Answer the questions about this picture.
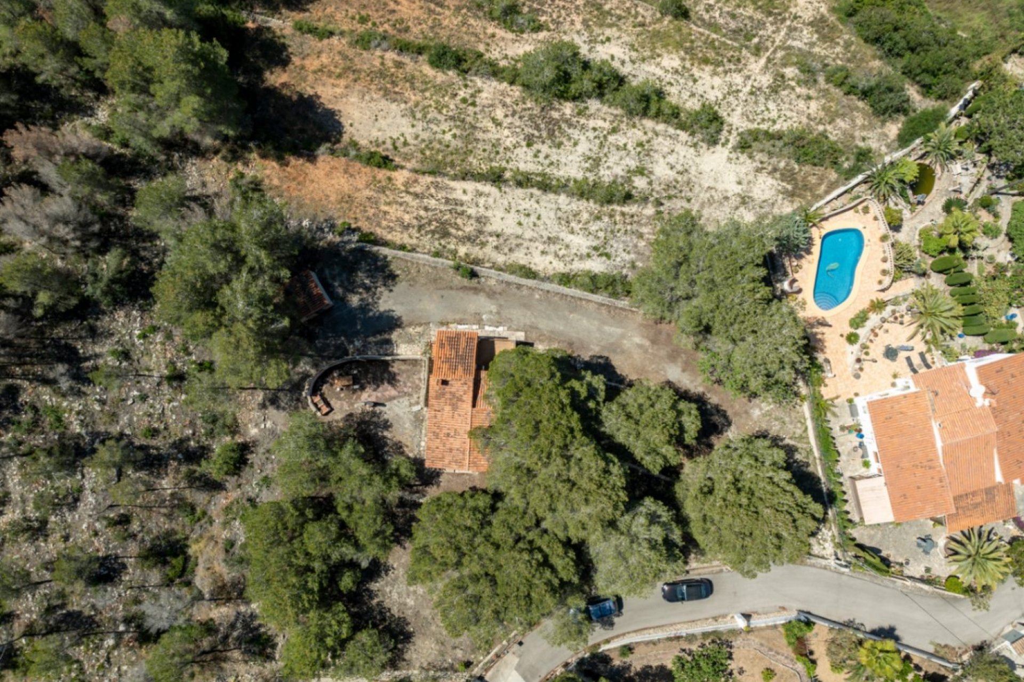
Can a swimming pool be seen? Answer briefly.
Yes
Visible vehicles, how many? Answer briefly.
2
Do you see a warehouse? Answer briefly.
No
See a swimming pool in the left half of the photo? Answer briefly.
No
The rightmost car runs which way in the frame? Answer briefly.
horizontally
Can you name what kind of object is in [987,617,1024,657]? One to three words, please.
shed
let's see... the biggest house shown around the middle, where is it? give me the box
[425,324,525,474]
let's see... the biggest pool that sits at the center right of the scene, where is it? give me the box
[808,222,870,316]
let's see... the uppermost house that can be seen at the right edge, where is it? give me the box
[844,343,1024,533]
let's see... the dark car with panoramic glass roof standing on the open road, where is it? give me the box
[661,576,714,604]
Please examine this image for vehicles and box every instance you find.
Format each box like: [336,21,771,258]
[581,595,623,625]
[661,576,714,604]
